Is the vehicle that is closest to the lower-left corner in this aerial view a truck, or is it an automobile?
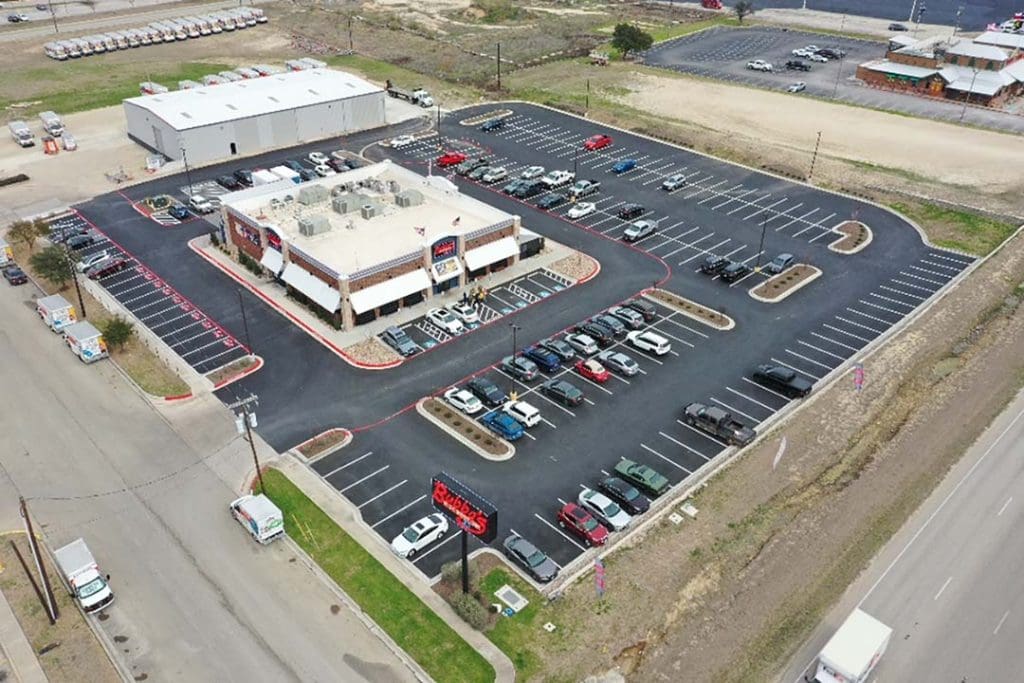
truck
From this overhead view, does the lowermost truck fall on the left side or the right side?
right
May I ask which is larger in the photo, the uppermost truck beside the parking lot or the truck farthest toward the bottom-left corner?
the truck farthest toward the bottom-left corner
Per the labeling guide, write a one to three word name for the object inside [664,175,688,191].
car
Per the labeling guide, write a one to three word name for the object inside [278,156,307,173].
vehicle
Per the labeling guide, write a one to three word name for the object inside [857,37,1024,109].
building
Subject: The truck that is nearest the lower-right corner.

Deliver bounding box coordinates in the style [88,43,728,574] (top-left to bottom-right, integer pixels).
[810,606,897,683]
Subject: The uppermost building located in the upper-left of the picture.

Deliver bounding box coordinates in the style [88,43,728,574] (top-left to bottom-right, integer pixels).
[119,68,388,168]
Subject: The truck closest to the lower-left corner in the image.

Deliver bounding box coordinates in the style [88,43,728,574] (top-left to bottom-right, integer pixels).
[55,531,123,615]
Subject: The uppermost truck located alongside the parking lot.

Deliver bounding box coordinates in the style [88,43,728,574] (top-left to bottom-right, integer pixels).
[386,76,426,100]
